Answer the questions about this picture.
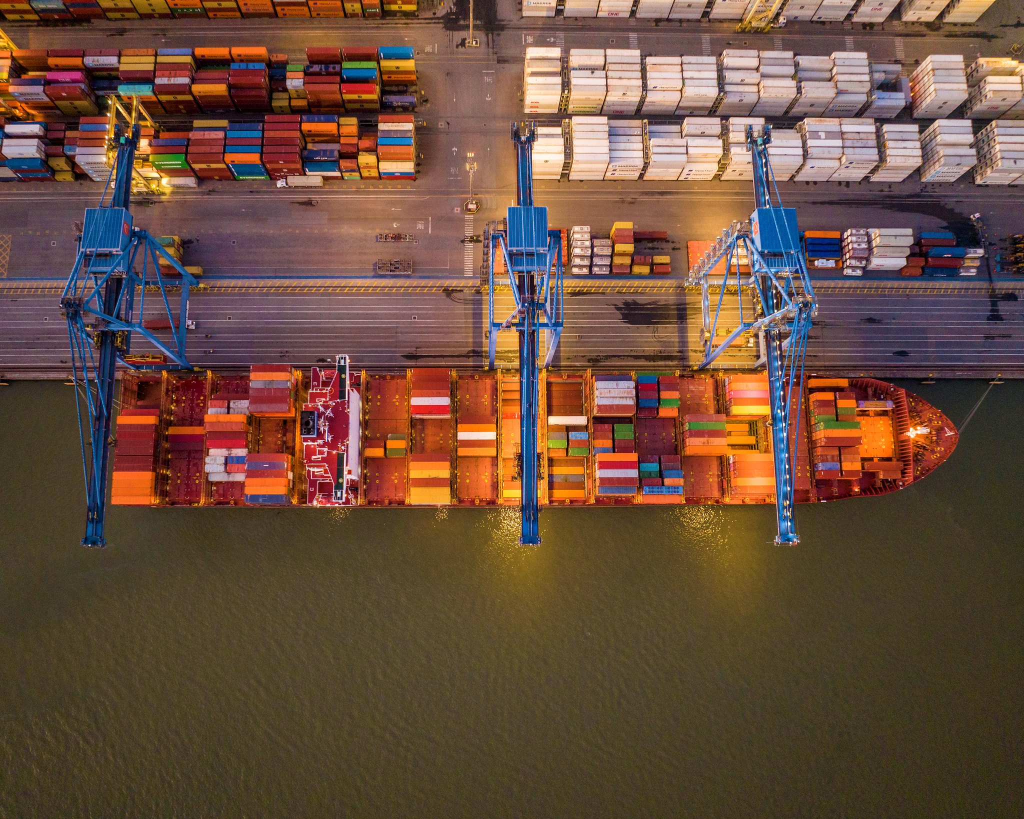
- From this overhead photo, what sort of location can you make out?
port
